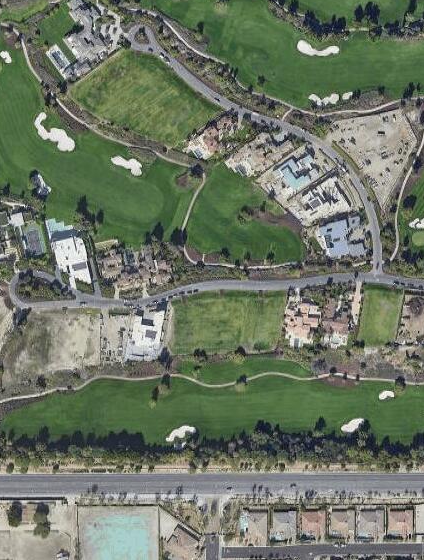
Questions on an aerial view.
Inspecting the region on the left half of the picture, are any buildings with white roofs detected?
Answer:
Yes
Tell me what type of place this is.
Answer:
golf course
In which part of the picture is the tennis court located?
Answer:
left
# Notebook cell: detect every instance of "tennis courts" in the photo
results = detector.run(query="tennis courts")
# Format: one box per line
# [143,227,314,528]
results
[23,224,46,255]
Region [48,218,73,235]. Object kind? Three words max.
swimming pool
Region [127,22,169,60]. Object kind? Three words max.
roundabout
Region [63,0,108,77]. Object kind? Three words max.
house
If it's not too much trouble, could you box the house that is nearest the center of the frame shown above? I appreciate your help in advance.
[139,244,173,284]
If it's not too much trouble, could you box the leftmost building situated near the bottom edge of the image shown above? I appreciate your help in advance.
[166,526,198,560]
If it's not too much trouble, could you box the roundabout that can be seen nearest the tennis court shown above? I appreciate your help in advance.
[8,269,81,309]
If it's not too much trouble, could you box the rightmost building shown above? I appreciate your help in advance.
[388,510,414,537]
